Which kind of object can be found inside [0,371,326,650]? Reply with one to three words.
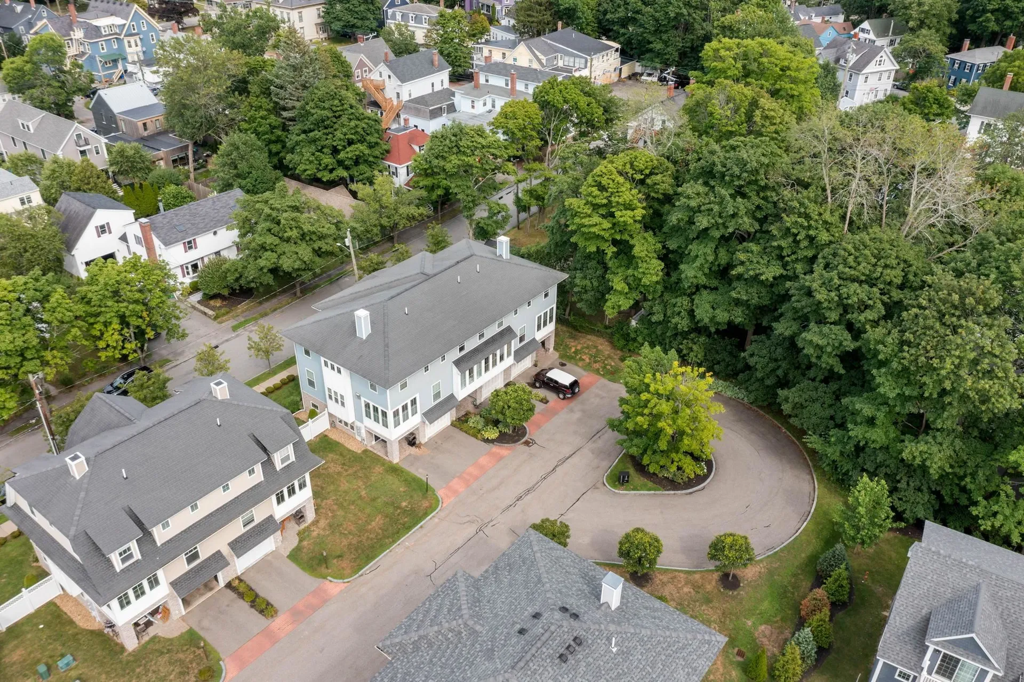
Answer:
house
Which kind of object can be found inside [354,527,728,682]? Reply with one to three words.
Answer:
house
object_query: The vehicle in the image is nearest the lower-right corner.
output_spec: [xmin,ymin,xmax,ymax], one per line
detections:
[530,369,584,401]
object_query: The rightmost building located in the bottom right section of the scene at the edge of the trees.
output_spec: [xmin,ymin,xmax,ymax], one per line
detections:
[875,521,1024,682]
